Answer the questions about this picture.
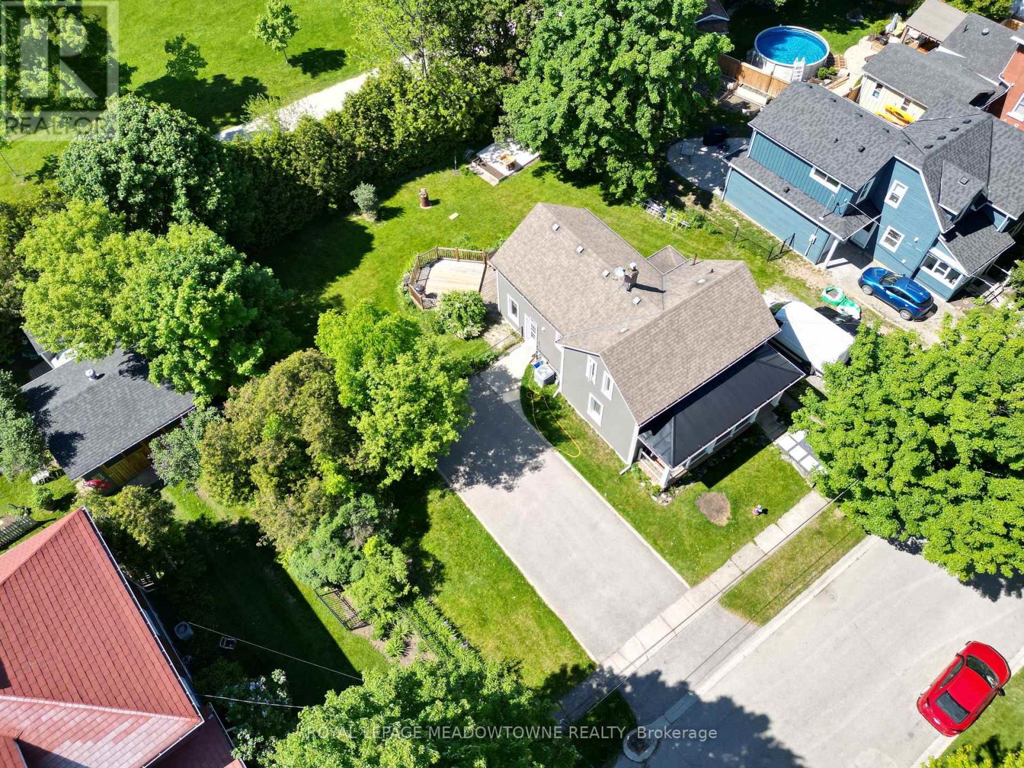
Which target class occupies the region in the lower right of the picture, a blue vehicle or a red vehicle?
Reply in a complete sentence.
The feature located in the lower right of the picture is a red vehicle.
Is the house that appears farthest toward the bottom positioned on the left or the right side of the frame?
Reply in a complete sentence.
The house that appears farthest toward the bottom sits on the left side.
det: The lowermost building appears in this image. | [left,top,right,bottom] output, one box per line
[0,507,250,768]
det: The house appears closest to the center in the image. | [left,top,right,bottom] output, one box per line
[485,203,805,491]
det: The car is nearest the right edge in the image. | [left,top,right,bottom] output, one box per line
[914,641,1015,738]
